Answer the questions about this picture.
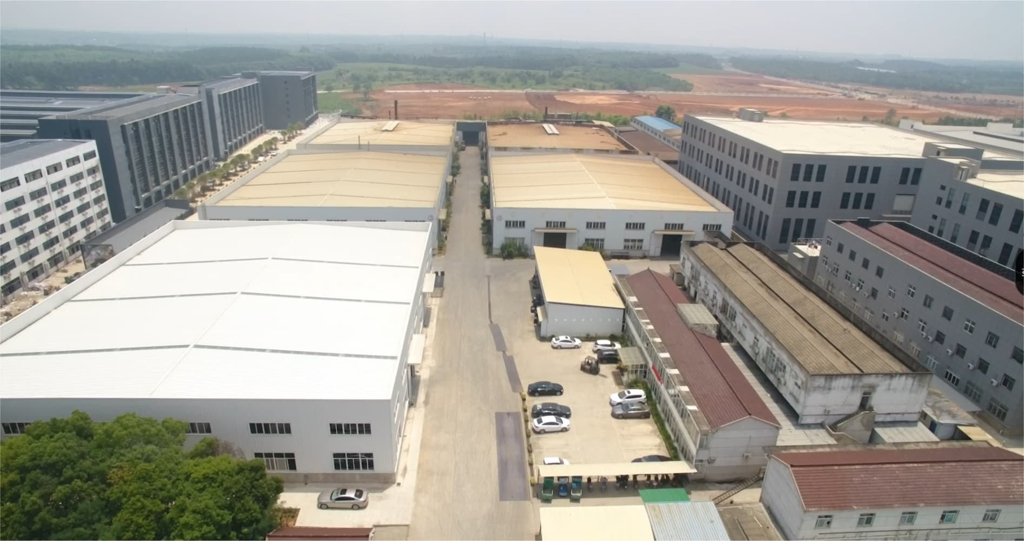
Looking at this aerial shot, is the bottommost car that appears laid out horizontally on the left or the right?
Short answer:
left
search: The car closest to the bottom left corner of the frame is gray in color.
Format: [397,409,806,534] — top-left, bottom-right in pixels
[316,492,368,515]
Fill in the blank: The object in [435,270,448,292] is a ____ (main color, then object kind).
gray vehicle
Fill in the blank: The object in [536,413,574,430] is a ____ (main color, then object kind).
white car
